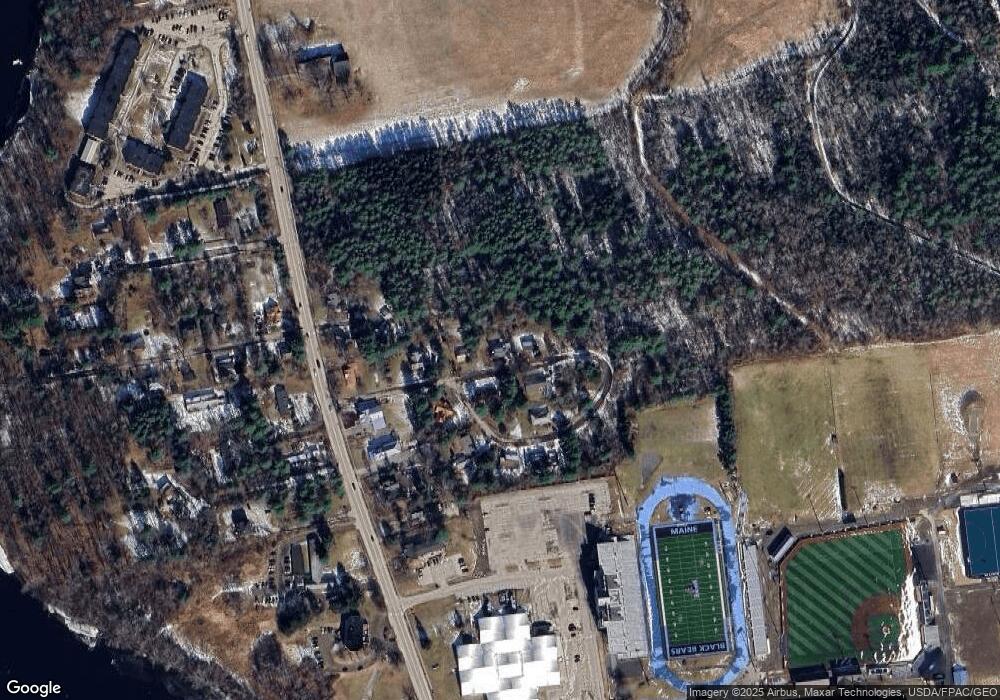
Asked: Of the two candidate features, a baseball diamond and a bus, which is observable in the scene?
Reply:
baseball diamond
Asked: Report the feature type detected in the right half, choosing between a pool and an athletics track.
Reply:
athletics track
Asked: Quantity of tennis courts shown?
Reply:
zero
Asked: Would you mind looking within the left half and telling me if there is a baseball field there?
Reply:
No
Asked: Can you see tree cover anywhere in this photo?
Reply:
Yes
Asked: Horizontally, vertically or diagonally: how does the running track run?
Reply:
vertically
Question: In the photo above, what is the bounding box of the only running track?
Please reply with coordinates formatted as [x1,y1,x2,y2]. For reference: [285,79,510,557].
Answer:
[639,476,749,699]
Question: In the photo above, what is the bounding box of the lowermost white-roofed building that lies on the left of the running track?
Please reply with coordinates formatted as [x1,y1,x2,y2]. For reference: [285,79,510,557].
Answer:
[458,604,562,700]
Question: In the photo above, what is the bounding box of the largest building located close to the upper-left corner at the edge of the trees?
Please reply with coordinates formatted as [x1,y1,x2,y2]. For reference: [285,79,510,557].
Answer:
[87,32,141,138]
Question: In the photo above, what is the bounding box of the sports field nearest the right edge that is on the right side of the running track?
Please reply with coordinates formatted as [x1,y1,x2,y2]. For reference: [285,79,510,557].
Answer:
[960,505,1000,578]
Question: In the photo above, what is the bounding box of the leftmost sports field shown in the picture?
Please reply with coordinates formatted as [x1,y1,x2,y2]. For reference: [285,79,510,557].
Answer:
[649,519,733,660]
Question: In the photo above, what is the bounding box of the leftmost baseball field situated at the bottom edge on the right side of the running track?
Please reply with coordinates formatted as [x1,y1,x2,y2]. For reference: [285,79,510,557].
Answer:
[783,525,923,672]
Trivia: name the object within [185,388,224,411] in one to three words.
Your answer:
house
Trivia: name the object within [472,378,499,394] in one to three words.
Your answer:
house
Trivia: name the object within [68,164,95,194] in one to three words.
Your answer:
building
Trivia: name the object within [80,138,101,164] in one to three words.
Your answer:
building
